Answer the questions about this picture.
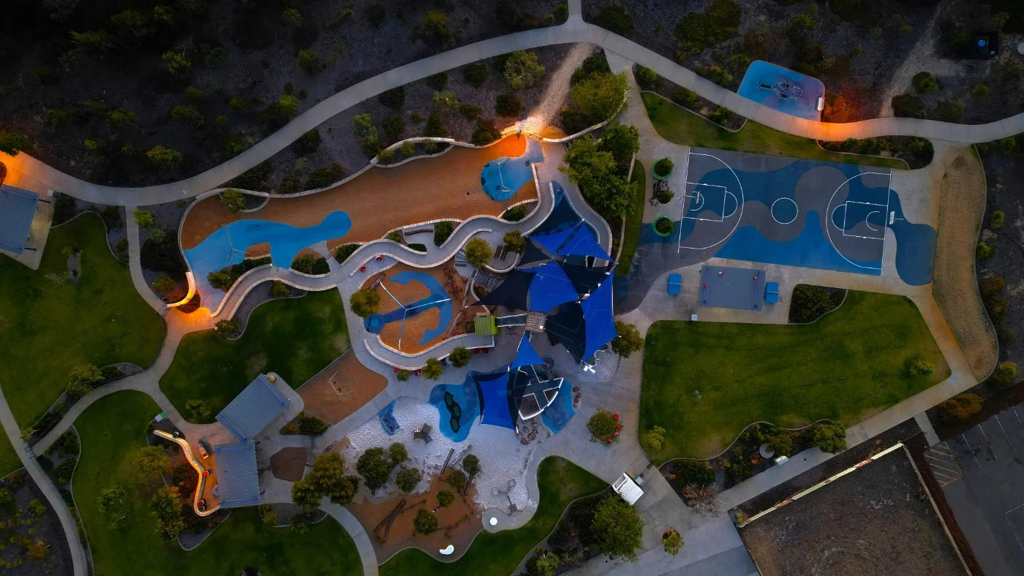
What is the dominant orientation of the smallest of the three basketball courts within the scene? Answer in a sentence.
In this picture, the smallest of the three basketball courts is oriented horizontally.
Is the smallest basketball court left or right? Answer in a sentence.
The smallest basketball court is on the right side of the image.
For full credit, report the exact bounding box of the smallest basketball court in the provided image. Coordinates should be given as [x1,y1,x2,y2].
[714,210,883,275]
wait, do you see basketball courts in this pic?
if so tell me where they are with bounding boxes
[714,210,883,275]
[636,159,937,285]
[616,146,891,317]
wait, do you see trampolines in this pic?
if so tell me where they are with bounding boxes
[444,391,461,434]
